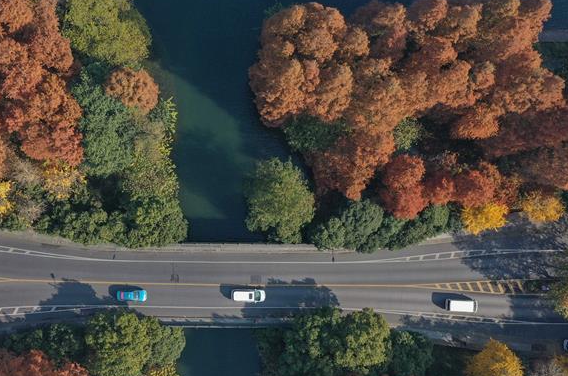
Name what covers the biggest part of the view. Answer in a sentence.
The largest share of the image is taken up by trees.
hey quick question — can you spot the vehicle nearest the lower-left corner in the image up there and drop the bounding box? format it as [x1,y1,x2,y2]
[116,289,147,302]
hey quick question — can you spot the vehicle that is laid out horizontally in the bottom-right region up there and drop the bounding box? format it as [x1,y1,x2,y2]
[445,299,479,313]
